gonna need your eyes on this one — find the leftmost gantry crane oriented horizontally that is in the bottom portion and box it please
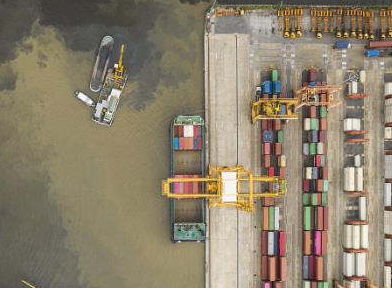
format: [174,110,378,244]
[157,161,288,213]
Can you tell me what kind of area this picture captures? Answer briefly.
port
